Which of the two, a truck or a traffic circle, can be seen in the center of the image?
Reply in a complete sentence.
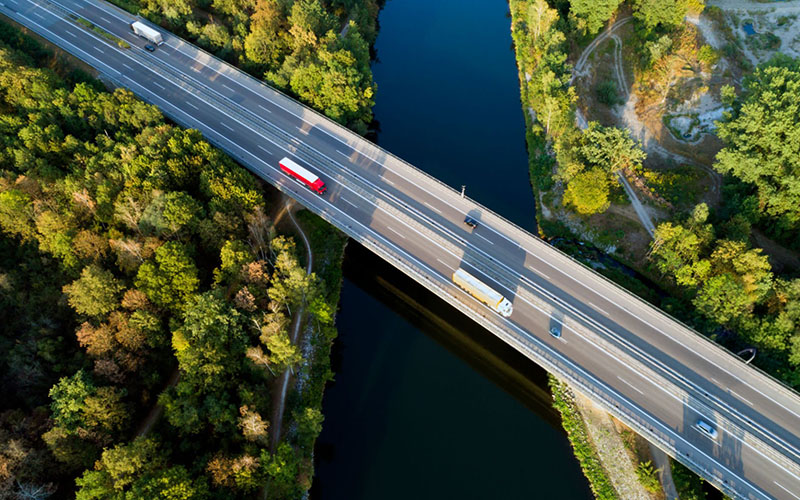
The feature located in the center of the image is a truck.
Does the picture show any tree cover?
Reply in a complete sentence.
Yes, tree cover shows up in the scene.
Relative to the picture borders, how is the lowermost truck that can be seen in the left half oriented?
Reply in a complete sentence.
In this picture, the lowermost truck that can be seen in the left half lies diagonally.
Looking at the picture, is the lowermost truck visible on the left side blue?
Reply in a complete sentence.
No, the lowermost truck visible on the left side is white.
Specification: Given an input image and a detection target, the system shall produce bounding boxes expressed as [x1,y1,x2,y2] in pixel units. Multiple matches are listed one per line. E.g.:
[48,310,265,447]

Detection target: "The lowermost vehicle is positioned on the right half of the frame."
[695,420,719,438]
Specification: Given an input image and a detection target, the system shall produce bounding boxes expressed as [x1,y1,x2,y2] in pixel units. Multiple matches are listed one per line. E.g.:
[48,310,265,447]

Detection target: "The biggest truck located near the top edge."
[128,22,163,45]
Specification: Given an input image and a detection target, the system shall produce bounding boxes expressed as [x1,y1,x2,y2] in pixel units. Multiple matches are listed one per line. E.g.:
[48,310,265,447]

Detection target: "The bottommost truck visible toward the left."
[279,157,325,195]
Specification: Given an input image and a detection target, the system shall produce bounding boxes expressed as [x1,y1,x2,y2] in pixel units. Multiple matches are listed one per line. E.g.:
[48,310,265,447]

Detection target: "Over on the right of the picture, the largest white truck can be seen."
[454,268,512,316]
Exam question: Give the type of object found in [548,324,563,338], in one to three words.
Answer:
car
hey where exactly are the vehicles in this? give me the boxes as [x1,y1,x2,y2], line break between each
[279,157,325,195]
[128,22,163,45]
[145,45,155,52]
[695,420,719,438]
[548,324,563,338]
[463,217,478,227]
[454,268,512,316]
